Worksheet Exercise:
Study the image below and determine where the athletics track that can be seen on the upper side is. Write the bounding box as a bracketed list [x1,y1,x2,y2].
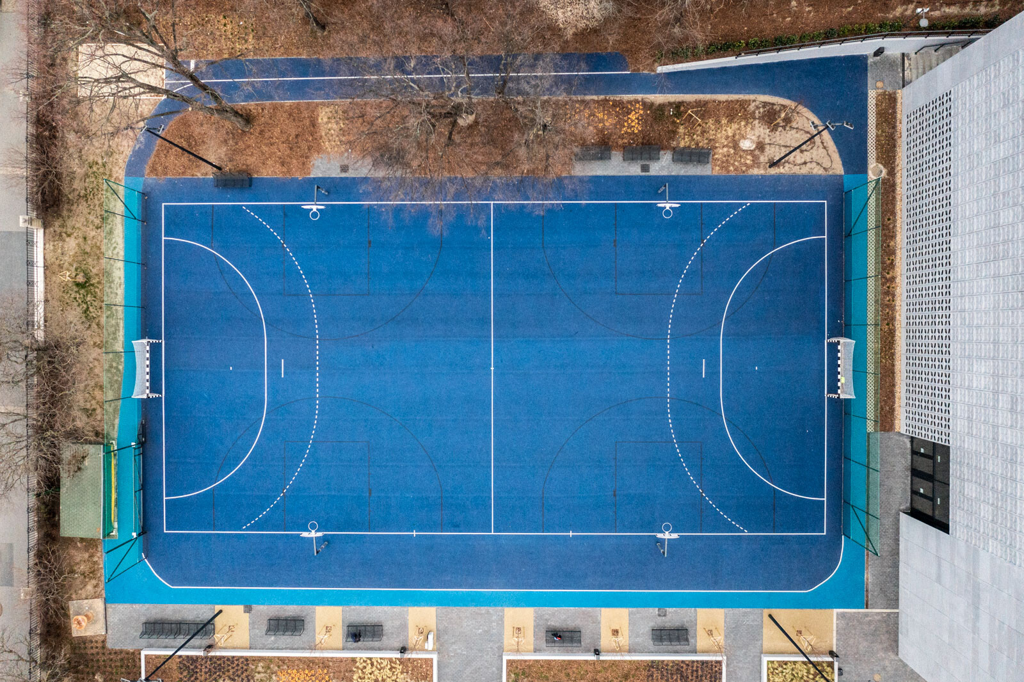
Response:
[124,52,868,176]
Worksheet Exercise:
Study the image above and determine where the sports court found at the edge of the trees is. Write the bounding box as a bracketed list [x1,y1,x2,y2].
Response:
[102,55,869,610]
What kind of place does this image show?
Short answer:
sports ground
